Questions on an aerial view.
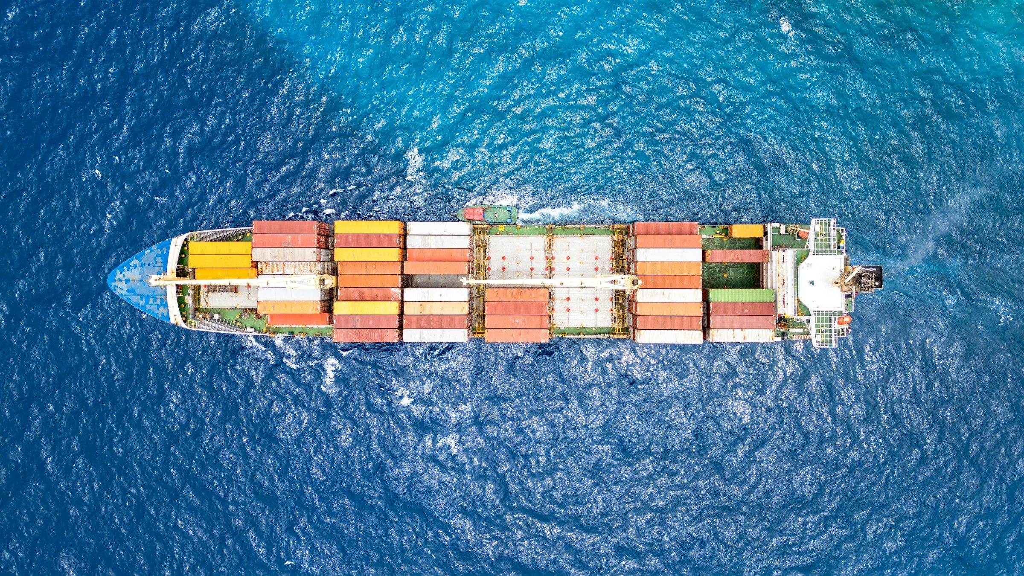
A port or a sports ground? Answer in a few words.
port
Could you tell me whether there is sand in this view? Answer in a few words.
No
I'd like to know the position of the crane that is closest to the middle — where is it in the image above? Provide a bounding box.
[460,273,638,294]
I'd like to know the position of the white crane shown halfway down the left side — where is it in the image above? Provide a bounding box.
[144,273,339,290]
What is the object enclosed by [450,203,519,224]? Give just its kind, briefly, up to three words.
boat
